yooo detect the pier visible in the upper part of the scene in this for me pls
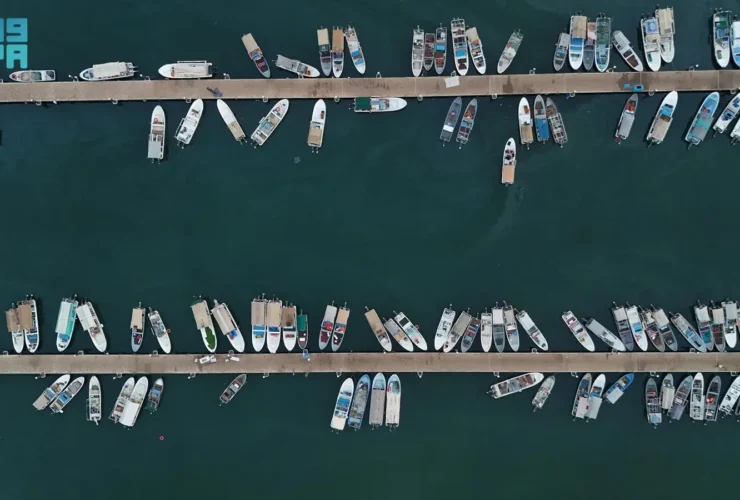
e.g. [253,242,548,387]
[0,66,740,106]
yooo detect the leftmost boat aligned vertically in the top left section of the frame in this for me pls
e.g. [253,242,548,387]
[147,100,165,165]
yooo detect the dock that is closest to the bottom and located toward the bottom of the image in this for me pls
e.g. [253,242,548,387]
[0,348,740,379]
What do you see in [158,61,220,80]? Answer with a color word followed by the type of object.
white boat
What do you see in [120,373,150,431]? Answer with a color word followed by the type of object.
white boat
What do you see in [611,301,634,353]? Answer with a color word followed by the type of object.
gray boat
